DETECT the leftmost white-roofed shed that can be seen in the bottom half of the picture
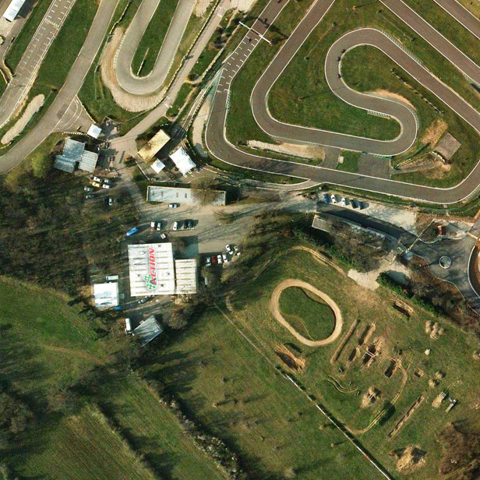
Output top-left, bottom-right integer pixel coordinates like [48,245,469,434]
[93,283,119,308]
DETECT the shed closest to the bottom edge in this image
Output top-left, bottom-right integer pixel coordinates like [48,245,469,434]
[133,316,162,341]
